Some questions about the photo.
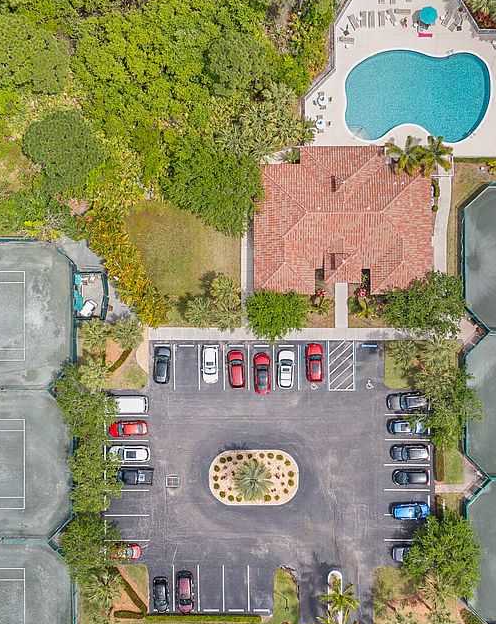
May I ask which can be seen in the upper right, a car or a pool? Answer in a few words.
pool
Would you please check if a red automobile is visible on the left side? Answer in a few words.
Yes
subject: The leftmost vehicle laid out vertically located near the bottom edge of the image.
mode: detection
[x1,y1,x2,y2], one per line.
[152,575,170,613]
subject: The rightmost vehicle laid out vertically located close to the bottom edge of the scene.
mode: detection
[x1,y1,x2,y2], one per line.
[175,570,194,612]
